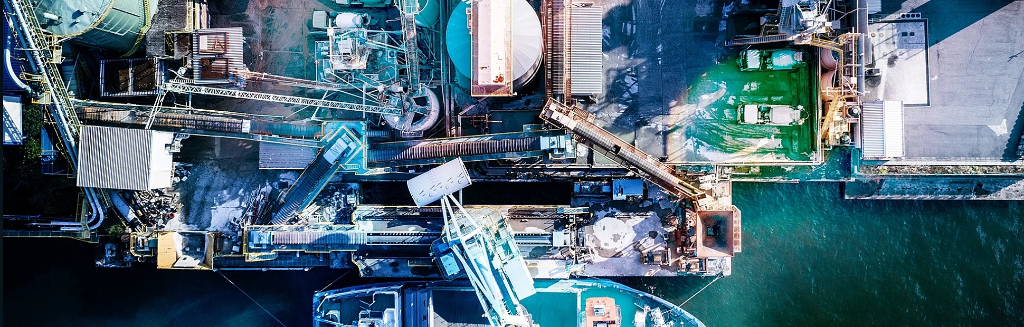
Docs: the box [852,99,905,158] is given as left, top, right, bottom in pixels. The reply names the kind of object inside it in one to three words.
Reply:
shed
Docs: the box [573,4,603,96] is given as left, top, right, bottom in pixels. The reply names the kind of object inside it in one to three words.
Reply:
shed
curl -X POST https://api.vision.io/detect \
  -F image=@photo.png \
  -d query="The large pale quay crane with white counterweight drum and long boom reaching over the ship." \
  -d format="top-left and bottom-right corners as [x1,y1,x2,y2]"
[407,158,540,327]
